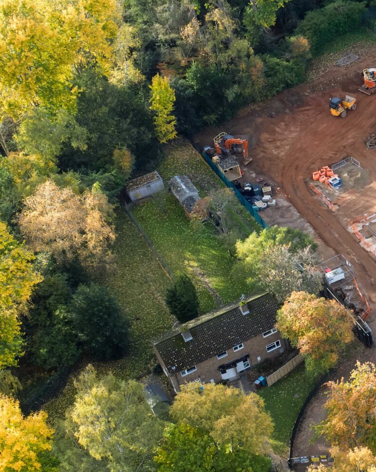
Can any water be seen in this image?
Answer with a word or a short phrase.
No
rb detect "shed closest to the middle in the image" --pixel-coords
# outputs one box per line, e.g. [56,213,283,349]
[164,173,202,214]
